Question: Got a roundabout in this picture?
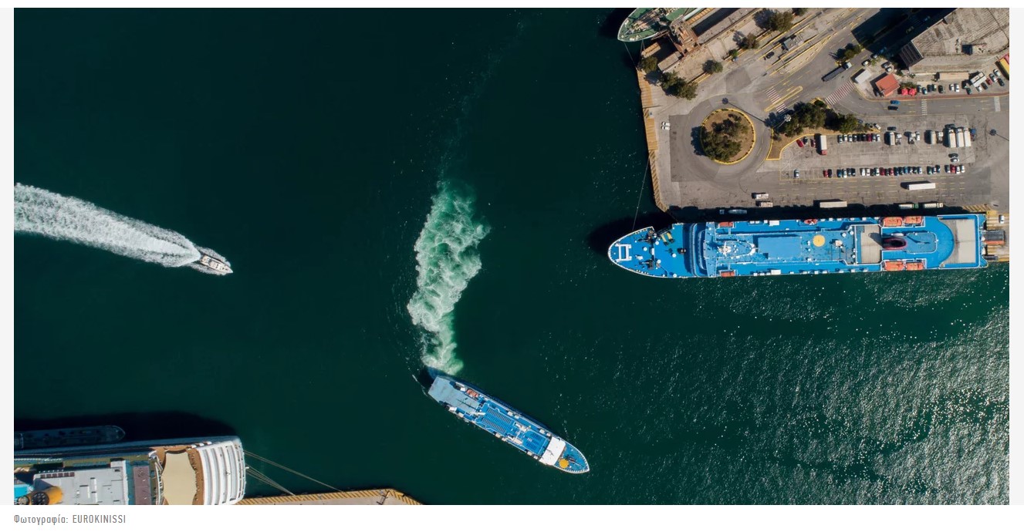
Yes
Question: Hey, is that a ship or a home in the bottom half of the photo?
ship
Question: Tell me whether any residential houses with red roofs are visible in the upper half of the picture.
Yes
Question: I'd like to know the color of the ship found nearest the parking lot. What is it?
blue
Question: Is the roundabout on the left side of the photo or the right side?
right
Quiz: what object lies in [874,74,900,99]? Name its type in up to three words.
house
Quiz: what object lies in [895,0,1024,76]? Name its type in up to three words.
building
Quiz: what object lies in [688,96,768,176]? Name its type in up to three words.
roundabout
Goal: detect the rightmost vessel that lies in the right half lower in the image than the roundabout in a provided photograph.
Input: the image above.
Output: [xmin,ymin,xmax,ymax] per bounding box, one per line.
[608,214,1005,278]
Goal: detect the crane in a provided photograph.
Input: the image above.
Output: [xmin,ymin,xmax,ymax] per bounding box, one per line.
[652,17,703,59]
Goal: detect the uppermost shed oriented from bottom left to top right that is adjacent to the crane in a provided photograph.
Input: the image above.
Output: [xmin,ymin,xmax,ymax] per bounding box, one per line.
[699,0,773,43]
